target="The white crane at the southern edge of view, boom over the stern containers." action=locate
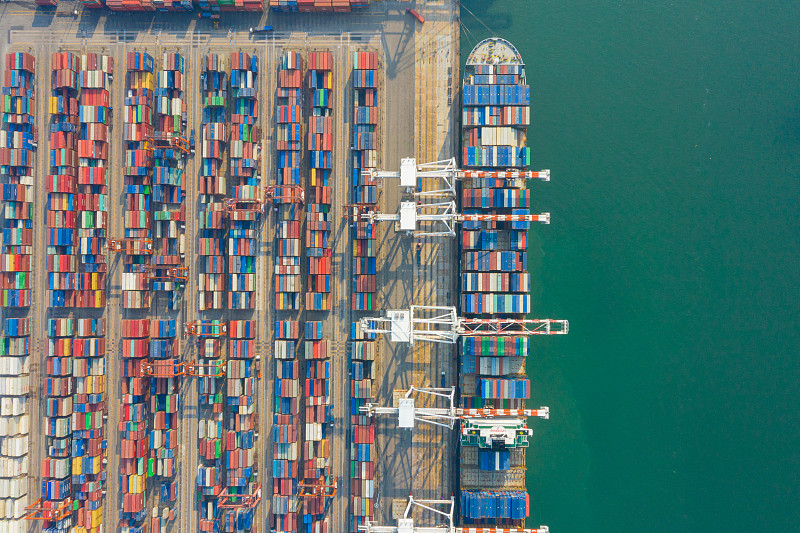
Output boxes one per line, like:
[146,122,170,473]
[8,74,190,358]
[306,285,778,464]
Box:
[363,488,550,533]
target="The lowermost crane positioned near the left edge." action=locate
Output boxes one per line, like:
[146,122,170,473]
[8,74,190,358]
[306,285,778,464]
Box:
[24,498,73,520]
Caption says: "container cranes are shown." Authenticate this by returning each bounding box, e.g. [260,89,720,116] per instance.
[363,199,550,242]
[107,238,153,253]
[359,299,570,345]
[184,320,227,336]
[363,488,550,533]
[224,199,266,215]
[145,265,189,280]
[264,184,305,202]
[298,474,338,497]
[220,485,262,507]
[145,136,189,154]
[342,204,380,220]
[363,377,550,431]
[363,153,550,200]
[24,498,73,520]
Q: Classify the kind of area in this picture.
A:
port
